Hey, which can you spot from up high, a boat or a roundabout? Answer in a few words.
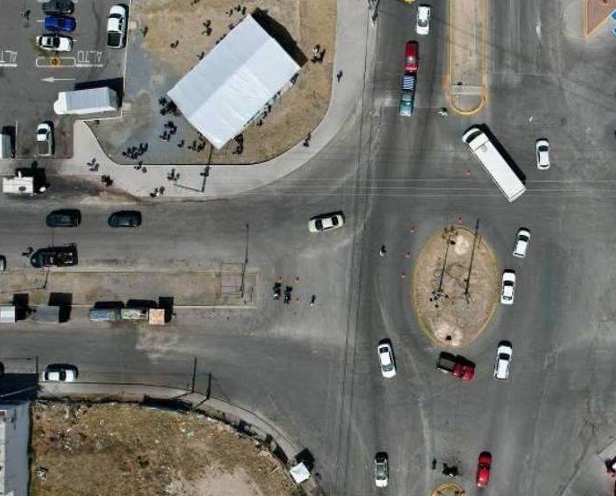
roundabout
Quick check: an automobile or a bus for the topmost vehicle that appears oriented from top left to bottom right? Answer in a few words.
bus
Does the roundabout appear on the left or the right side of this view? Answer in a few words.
right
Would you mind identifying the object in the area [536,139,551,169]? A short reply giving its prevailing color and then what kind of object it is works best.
white car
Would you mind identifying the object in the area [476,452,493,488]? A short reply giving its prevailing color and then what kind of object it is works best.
red car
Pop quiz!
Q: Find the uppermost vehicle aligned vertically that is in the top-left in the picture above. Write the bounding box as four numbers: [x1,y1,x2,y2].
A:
[107,5,126,48]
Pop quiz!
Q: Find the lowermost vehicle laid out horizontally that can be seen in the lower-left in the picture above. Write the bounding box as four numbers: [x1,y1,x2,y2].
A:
[45,368,78,383]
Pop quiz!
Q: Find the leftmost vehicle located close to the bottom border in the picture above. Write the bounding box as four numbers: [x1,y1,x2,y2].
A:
[374,455,389,488]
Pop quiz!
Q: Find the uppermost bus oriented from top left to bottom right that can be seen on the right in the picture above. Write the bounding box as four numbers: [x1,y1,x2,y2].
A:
[463,128,526,203]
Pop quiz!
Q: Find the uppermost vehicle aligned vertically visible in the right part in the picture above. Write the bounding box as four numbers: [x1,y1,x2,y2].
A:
[416,5,431,37]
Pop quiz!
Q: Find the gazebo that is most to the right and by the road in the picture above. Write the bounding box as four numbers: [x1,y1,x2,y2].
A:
[290,457,314,483]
